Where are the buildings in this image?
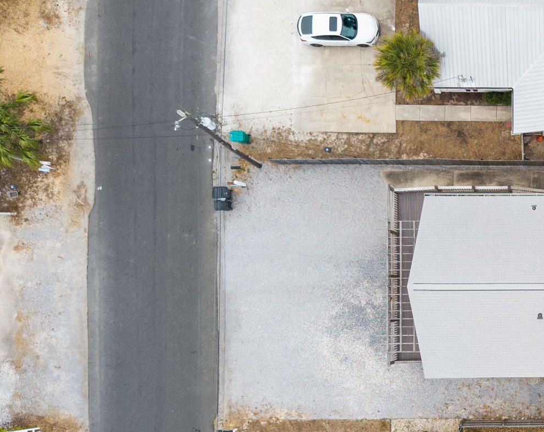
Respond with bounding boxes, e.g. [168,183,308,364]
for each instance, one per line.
[407,190,544,378]
[417,0,544,136]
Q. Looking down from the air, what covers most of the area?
paved ground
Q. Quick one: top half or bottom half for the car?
top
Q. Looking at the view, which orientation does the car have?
from side to side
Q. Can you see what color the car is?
white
